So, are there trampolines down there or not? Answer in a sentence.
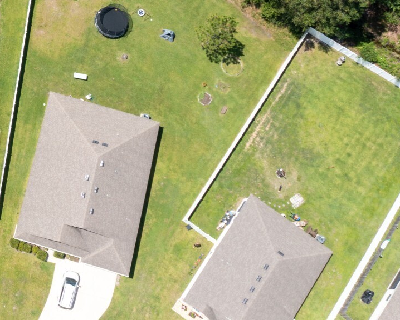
Yes, a trampoline appears in the view.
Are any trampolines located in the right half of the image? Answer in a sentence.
No, there's no trampoline to be seen in the right half of the image.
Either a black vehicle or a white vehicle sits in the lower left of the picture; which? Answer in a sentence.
It is a white vehicle that can be seen in the lower left of the picture.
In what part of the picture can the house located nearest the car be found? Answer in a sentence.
You can find the house located nearest the car in the left area of the picture.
